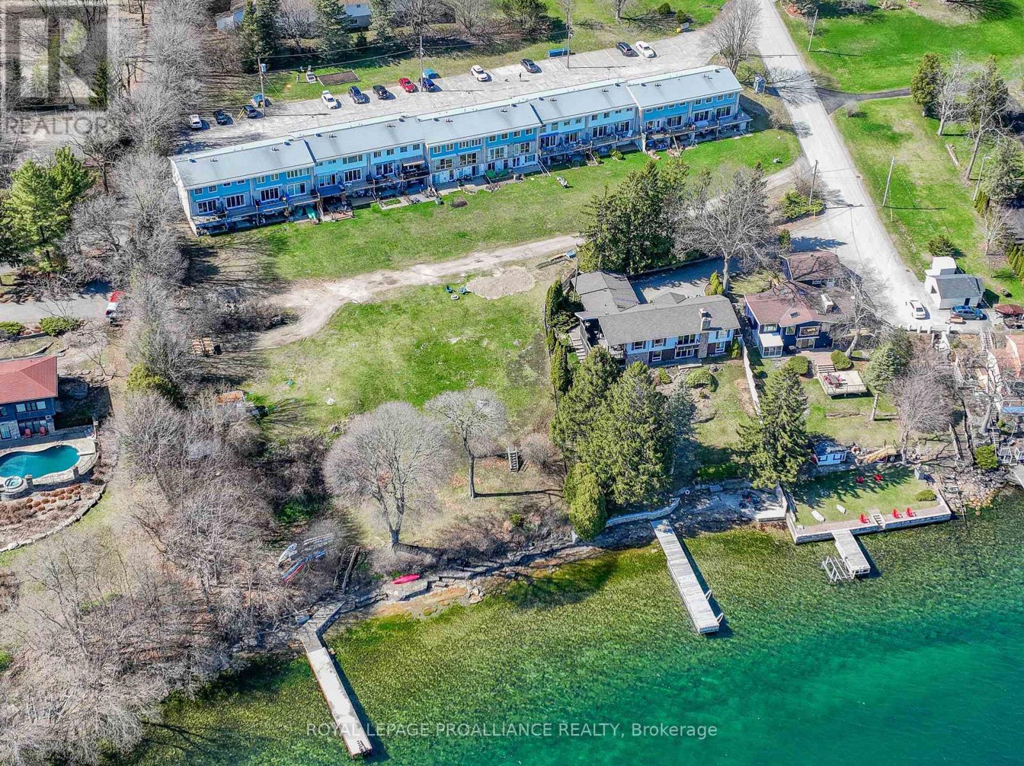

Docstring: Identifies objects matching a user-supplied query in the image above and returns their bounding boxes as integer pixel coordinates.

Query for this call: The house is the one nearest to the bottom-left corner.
[0,355,59,436]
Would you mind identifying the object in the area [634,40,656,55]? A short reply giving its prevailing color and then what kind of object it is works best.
white car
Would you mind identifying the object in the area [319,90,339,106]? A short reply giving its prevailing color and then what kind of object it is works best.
white car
